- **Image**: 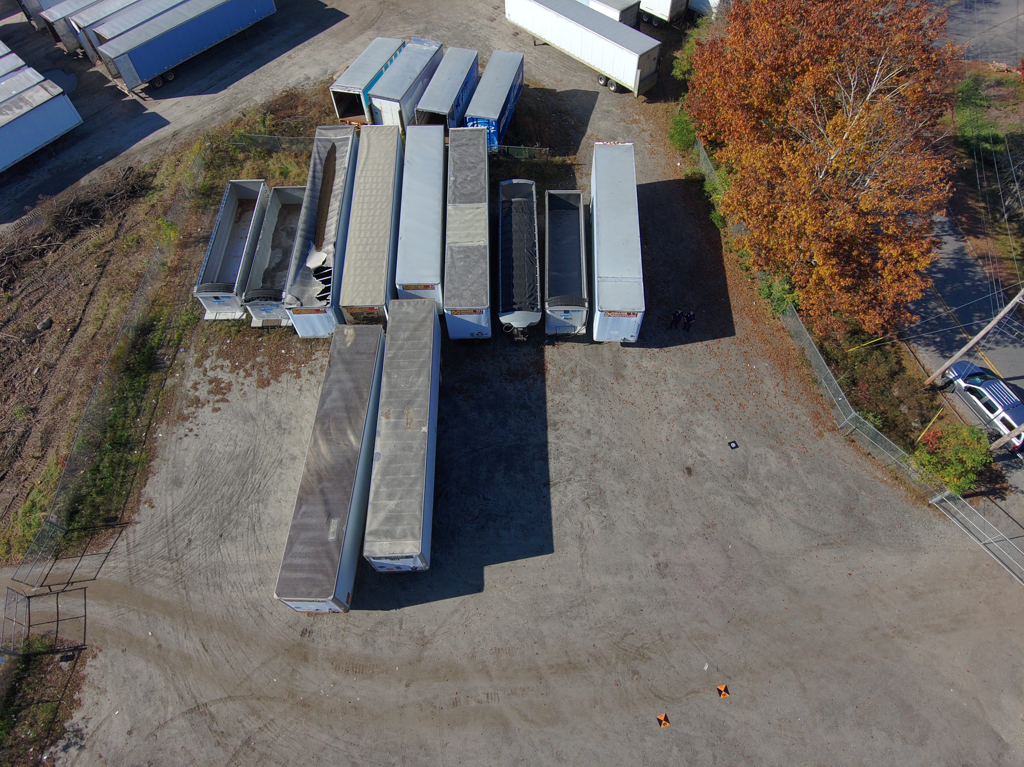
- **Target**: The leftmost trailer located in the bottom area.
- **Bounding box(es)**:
[276,325,386,614]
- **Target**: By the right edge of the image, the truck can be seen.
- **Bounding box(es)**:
[940,364,1024,460]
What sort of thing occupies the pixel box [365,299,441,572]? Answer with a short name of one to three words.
trailer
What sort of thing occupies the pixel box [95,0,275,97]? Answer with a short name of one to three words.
trailer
